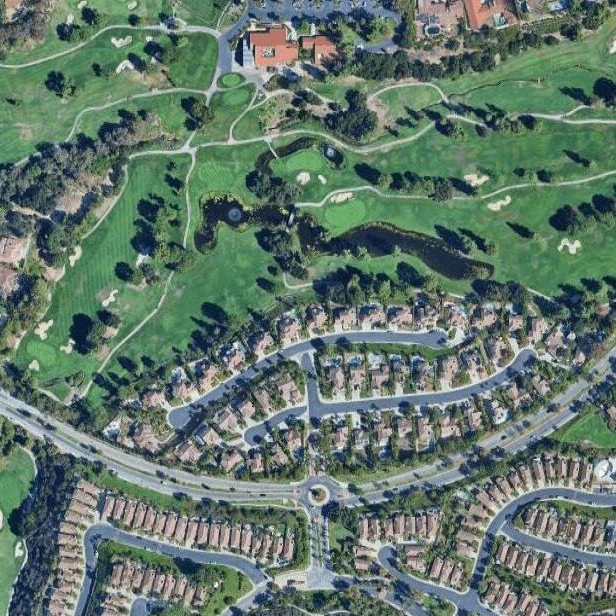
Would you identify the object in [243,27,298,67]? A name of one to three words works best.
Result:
building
